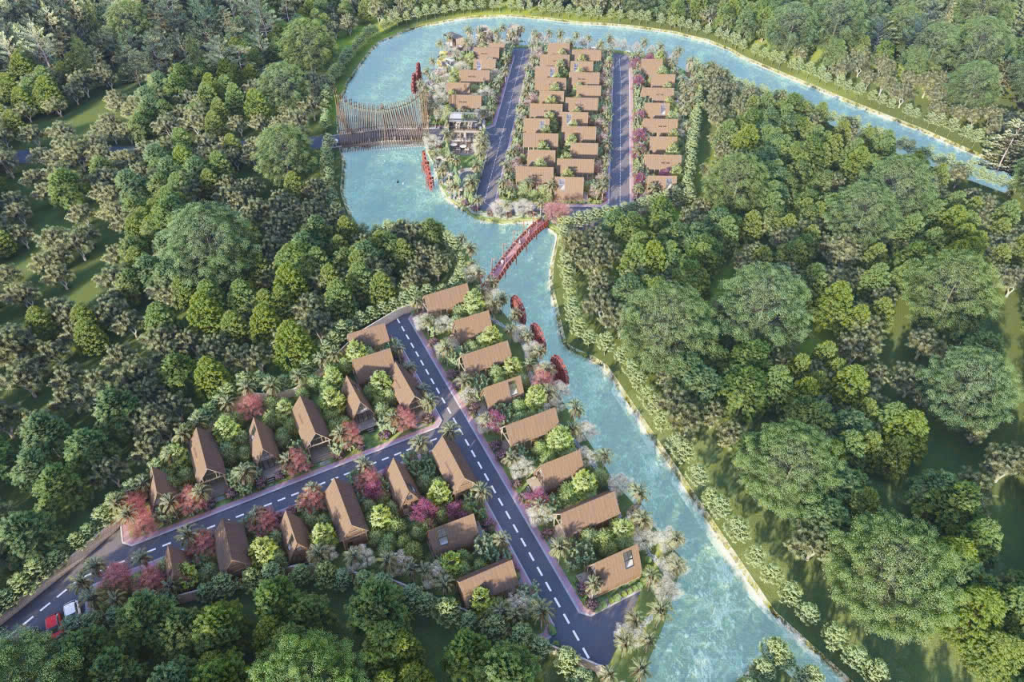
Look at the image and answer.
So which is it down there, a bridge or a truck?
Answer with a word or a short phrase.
bridge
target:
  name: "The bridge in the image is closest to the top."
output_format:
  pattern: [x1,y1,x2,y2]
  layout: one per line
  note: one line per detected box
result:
[325,86,428,148]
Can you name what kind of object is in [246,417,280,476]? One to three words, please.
house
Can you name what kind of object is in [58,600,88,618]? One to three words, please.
car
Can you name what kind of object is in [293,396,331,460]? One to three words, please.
house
